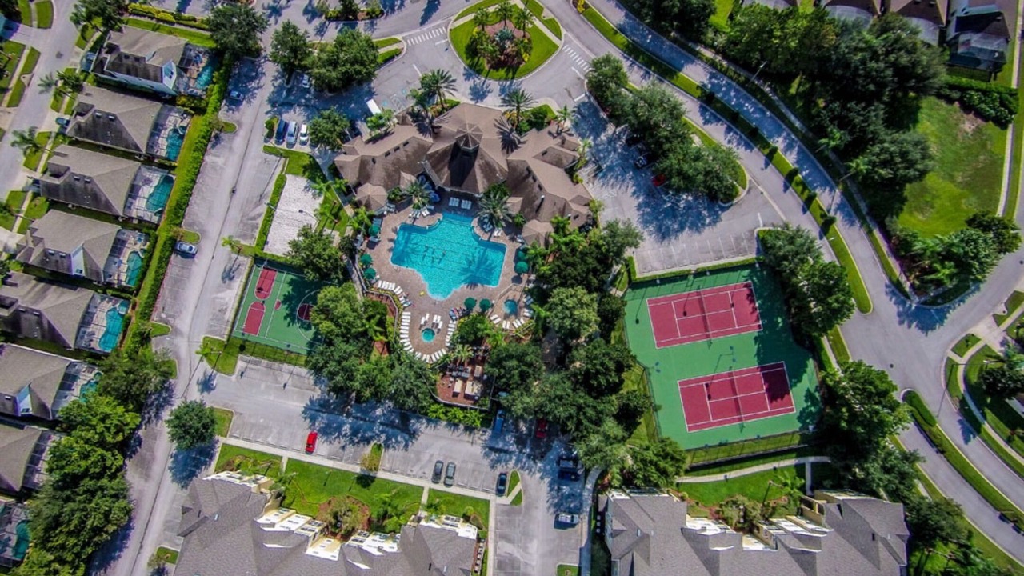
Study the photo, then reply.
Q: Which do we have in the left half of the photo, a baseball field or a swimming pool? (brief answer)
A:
swimming pool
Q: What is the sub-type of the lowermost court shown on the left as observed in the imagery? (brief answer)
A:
basketball court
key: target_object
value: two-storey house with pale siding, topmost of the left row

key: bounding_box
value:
[92,32,200,95]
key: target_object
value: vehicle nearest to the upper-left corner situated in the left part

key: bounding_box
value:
[76,49,93,72]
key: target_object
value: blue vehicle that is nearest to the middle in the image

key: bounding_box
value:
[492,409,505,437]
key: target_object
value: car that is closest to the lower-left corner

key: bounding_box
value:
[304,432,316,454]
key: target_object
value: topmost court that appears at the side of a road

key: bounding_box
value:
[264,174,322,256]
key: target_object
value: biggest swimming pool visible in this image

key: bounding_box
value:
[391,212,507,301]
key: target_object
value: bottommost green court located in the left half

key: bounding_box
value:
[235,265,341,354]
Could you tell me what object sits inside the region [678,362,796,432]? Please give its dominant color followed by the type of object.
red tennis court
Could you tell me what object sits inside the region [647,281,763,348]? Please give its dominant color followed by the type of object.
red tennis court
